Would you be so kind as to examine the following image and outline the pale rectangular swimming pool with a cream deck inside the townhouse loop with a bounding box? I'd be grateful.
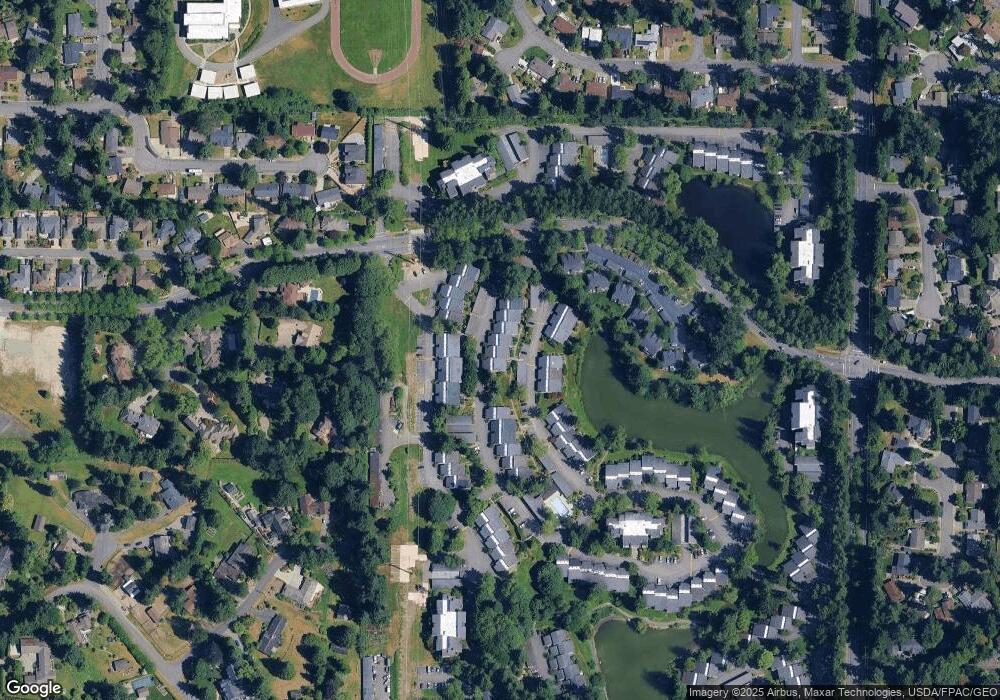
[545,491,575,522]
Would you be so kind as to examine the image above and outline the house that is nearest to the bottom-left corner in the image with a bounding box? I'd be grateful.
[20,638,50,679]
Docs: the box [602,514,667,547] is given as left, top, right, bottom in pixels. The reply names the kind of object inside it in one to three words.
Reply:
building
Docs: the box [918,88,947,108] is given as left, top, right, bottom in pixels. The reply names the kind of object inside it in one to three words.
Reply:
house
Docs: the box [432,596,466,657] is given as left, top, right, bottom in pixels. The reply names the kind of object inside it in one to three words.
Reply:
building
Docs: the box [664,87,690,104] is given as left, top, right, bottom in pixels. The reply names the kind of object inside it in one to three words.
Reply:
house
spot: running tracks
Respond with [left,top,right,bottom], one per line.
[330,0,421,83]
